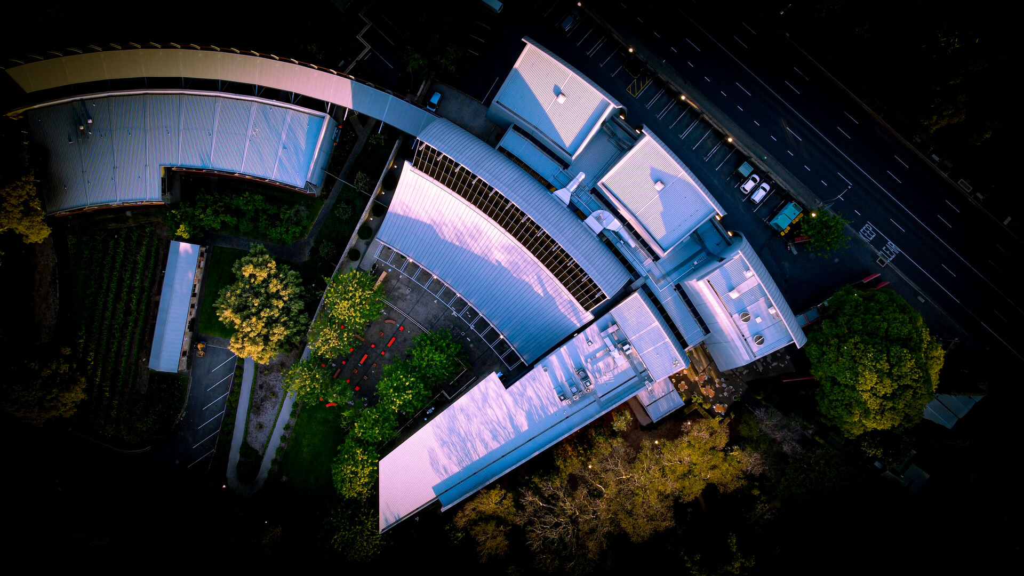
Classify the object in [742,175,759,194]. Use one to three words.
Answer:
car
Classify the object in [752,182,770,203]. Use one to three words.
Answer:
car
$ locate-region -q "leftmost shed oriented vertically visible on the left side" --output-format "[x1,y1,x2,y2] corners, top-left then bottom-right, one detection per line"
[149,240,216,373]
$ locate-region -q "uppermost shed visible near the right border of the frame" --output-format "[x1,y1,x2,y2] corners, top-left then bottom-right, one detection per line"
[917,392,983,428]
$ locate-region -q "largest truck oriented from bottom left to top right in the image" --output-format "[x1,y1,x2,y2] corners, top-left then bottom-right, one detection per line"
[773,203,803,232]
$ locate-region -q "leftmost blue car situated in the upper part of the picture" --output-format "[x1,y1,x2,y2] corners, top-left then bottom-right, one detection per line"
[428,90,441,111]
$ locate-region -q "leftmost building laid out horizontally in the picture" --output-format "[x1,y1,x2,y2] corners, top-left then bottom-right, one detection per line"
[20,88,342,218]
